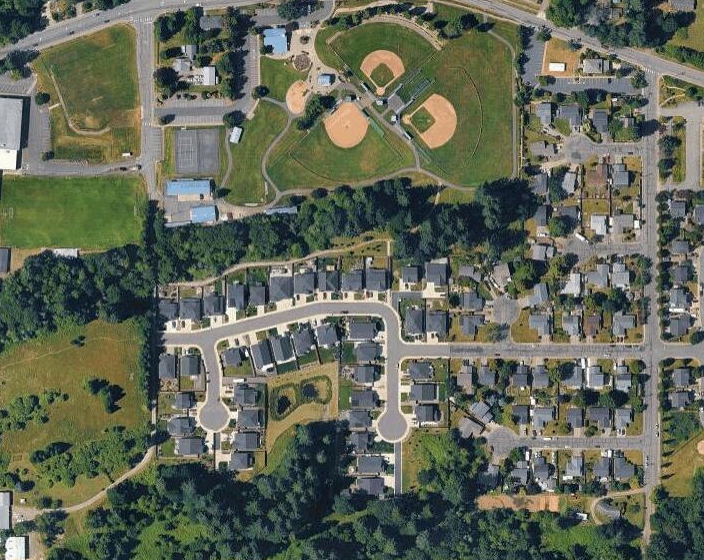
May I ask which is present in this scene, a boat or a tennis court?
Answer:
tennis court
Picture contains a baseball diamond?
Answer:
Yes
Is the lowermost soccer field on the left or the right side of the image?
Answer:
left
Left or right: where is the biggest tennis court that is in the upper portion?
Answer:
left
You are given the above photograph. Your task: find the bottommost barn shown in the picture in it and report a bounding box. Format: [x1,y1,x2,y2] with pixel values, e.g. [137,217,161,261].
[5,537,25,560]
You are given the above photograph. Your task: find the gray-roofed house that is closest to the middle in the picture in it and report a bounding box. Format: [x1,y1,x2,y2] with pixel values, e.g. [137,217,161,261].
[343,270,362,290]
